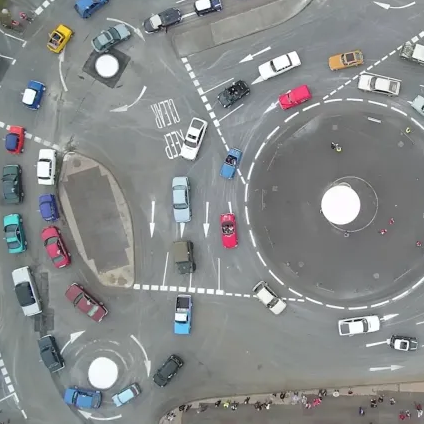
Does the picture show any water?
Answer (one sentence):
No, no water is visible.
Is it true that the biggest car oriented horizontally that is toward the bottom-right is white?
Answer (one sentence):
Yes, the biggest car oriented horizontally that is toward the bottom-right is indeed white.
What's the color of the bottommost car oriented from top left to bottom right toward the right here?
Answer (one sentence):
In this view, the bottommost car oriented from top left to bottom right toward the right is white.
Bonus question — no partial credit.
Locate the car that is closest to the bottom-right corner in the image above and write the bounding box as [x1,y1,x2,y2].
[390,335,418,353]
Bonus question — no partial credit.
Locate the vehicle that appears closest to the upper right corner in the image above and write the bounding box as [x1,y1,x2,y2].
[399,42,424,66]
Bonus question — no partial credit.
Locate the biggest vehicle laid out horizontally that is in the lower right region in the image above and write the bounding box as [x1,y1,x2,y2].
[338,316,380,336]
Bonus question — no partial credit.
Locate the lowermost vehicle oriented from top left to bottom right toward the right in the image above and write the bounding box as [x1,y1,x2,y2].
[253,281,287,315]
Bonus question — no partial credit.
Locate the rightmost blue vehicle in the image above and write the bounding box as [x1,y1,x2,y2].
[221,147,243,180]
